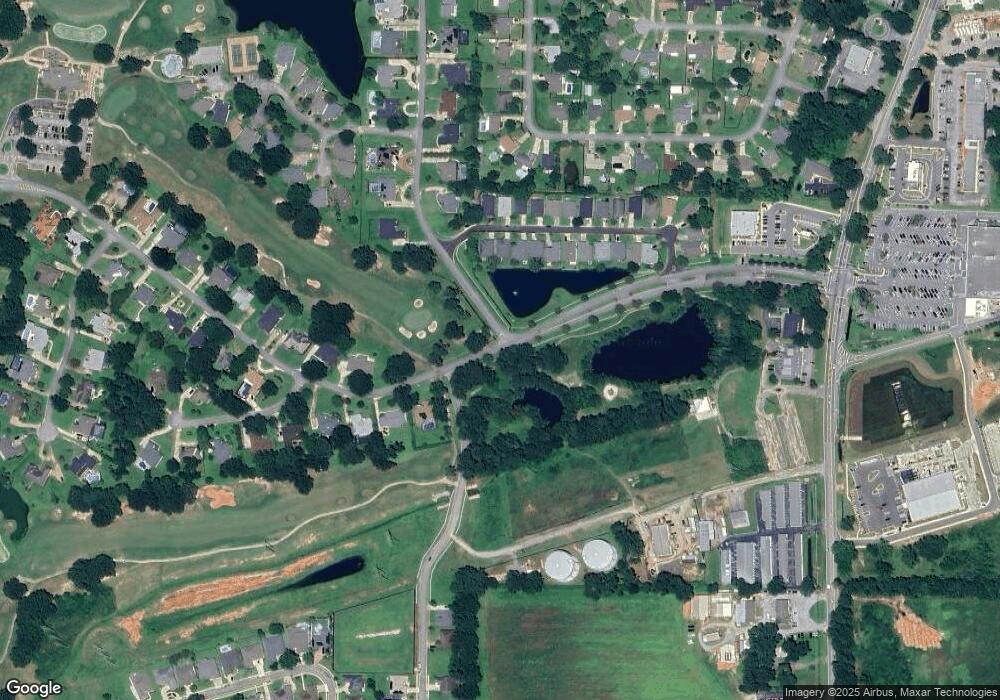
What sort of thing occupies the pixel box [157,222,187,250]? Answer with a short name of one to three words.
house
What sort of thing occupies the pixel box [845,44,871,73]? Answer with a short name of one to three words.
building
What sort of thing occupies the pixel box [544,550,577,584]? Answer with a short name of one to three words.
storage tank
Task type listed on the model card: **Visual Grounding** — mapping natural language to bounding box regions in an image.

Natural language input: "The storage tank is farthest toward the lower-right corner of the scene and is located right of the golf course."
[583,538,616,572]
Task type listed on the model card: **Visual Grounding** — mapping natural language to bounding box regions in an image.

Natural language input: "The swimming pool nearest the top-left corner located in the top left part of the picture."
[159,53,184,78]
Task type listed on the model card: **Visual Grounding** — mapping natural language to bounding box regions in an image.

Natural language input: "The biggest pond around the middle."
[488,268,630,317]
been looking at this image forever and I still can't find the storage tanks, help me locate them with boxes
[583,538,616,572]
[544,550,577,584]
